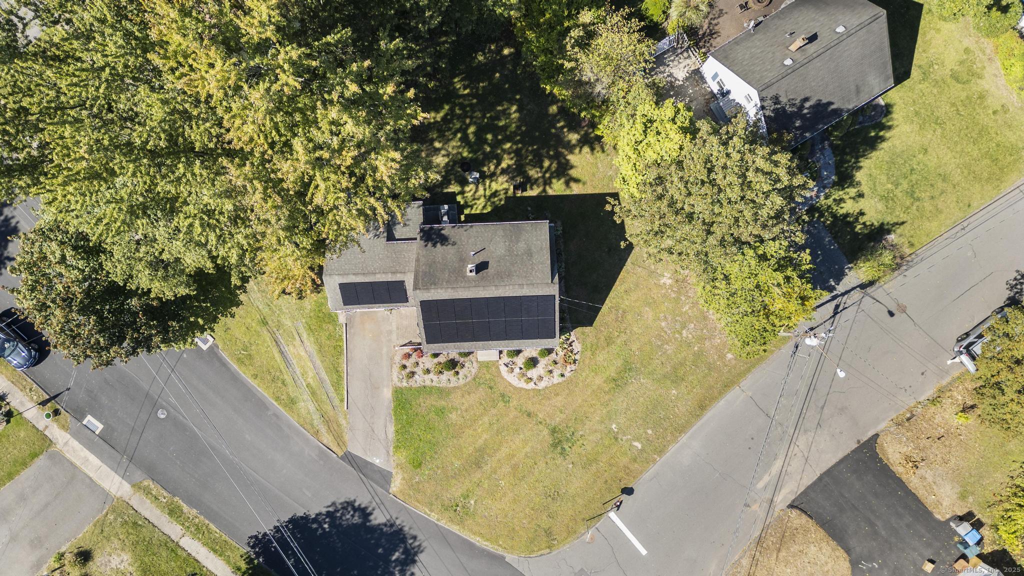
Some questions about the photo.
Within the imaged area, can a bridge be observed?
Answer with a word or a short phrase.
No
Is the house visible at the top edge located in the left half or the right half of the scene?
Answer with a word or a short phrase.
right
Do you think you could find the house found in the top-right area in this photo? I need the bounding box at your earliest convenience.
[701,0,896,163]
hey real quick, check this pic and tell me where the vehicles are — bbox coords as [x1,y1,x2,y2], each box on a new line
[0,315,38,371]
[959,306,1024,372]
